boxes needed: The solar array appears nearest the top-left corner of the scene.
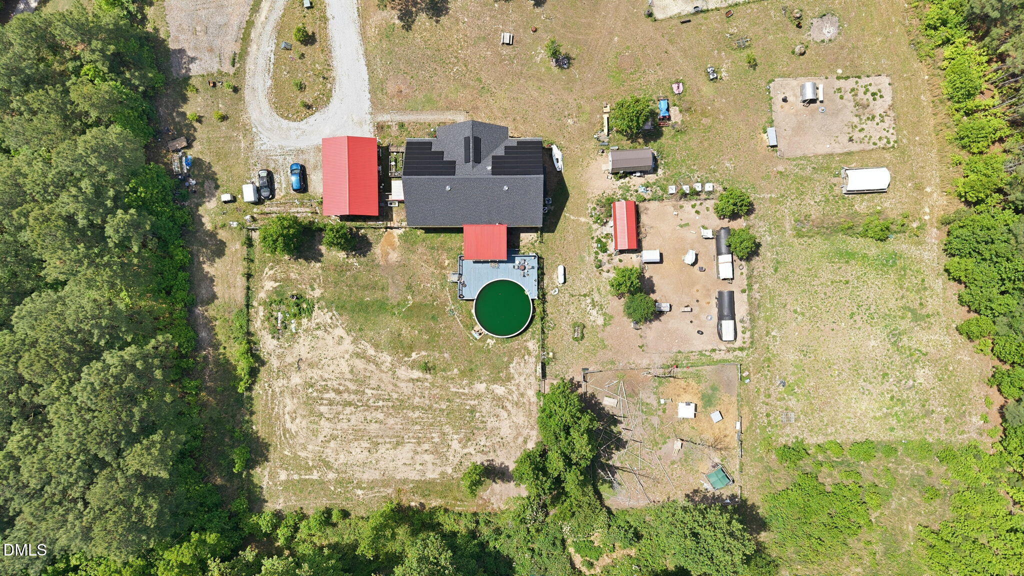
[403,141,455,174]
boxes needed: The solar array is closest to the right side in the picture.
[492,140,543,174]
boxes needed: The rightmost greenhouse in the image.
[843,167,897,193]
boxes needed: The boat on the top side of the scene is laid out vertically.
[553,145,566,172]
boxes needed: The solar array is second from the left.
[466,136,480,164]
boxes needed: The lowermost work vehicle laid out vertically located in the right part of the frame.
[657,92,672,125]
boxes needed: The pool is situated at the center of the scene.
[473,278,533,339]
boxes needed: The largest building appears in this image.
[402,121,544,227]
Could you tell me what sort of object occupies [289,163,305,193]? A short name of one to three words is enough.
car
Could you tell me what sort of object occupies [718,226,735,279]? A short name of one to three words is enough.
house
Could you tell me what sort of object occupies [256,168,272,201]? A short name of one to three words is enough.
car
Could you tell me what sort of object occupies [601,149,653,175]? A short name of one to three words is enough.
shed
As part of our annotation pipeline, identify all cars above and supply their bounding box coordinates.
[289,163,305,193]
[256,168,272,201]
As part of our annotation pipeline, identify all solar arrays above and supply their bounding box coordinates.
[466,136,480,164]
[492,140,543,174]
[403,141,455,174]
